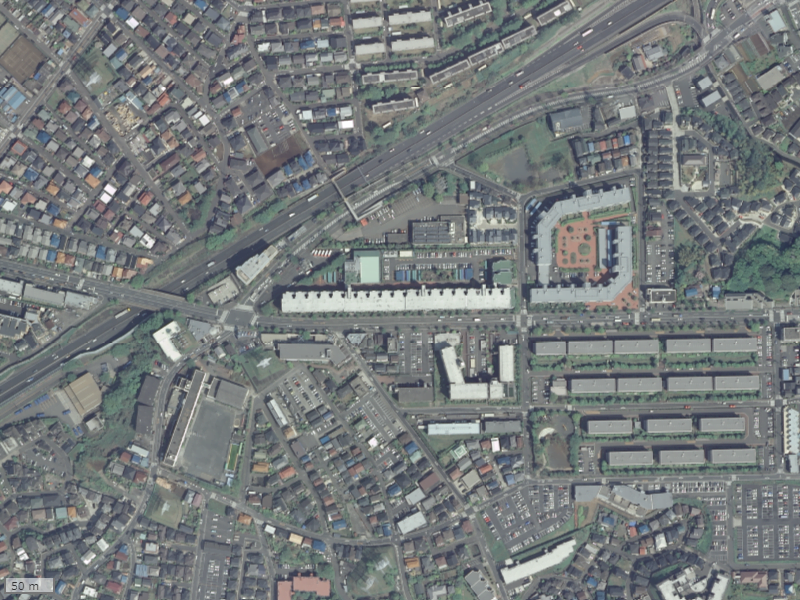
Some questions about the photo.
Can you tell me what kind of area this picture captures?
residential area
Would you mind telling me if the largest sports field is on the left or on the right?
left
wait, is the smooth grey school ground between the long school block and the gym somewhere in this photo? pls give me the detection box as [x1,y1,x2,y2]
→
[182,398,244,484]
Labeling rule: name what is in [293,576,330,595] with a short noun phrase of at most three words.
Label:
house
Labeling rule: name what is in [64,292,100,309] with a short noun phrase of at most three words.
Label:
building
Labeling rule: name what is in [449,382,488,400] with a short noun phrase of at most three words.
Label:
building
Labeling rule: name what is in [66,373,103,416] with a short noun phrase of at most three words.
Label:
barn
